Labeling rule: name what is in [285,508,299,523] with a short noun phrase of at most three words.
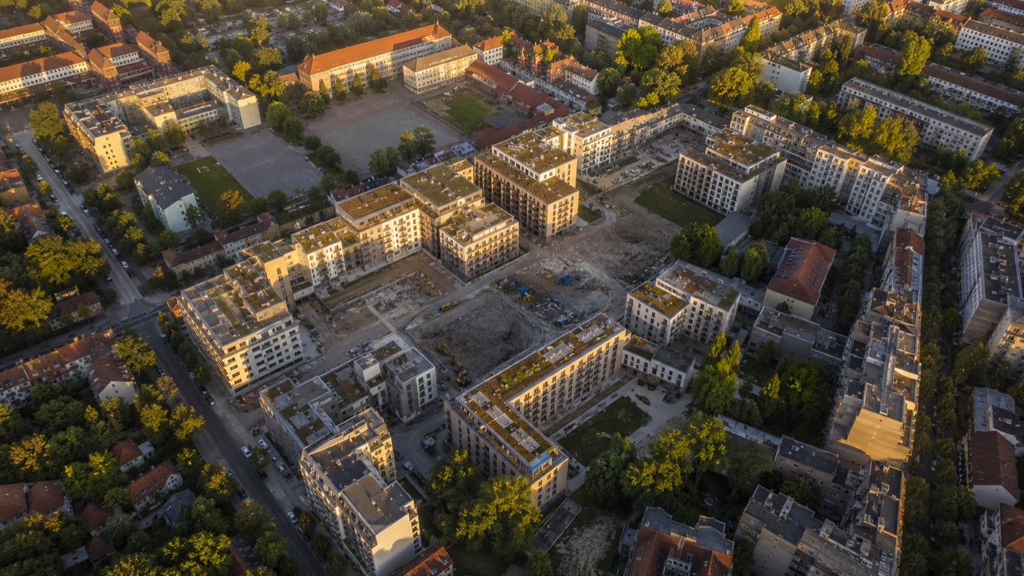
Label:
car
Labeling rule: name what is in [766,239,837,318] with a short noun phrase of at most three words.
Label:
house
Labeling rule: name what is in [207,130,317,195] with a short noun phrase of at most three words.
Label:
sports court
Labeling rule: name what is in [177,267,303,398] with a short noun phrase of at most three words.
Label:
building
